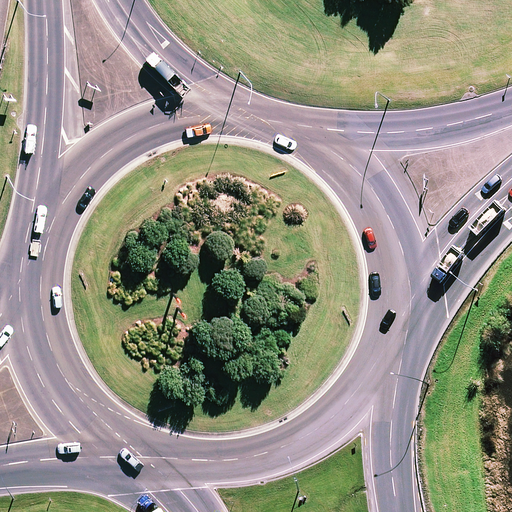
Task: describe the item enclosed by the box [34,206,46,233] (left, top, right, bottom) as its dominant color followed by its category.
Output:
white vehicle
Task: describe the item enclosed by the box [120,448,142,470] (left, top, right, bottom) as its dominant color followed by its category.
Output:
white truck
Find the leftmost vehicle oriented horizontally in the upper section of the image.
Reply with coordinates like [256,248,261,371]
[186,124,211,137]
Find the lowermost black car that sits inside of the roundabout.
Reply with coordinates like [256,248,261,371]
[381,308,396,330]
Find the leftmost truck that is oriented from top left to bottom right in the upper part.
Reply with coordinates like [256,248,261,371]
[145,50,190,96]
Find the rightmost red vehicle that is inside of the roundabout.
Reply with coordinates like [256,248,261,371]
[365,226,378,248]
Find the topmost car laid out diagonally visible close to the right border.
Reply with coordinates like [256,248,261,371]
[482,174,502,194]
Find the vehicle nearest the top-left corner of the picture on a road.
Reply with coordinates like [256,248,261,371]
[24,124,38,153]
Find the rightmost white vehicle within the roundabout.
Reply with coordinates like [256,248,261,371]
[274,134,297,149]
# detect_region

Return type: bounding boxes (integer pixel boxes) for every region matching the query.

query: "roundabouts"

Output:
[22,93,410,482]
